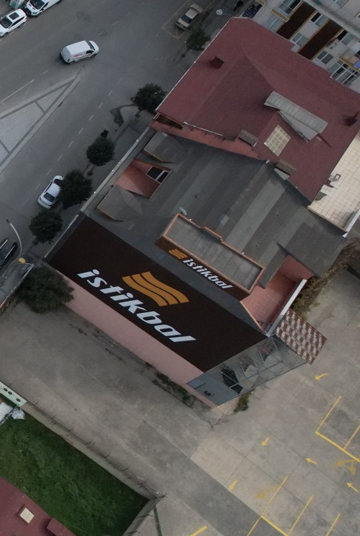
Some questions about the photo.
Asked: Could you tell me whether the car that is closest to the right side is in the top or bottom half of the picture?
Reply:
top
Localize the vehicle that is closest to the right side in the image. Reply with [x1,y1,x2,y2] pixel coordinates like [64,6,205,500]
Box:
[172,0,206,31]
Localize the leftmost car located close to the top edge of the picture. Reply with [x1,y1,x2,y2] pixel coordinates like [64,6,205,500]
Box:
[0,6,30,38]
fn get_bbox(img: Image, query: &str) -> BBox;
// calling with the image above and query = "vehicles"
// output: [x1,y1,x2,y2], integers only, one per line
[24,0,60,17]
[172,0,206,31]
[0,6,30,38]
[0,235,20,273]
[58,38,102,66]
[36,174,64,212]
